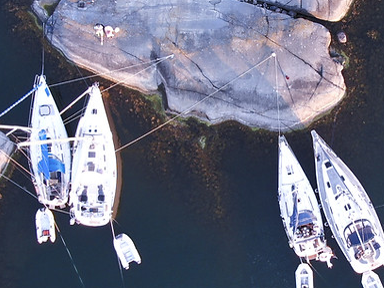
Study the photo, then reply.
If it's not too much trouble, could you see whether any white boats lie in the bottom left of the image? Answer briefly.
Yes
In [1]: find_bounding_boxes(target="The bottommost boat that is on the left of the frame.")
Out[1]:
[115,233,140,270]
